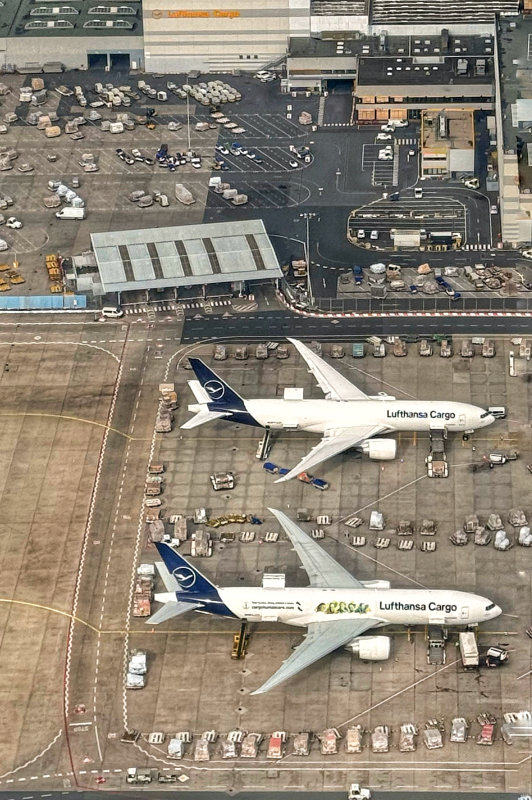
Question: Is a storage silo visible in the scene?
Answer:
No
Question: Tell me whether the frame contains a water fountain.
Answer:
No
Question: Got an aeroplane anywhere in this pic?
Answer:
Yes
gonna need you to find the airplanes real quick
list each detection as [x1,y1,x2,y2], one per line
[146,509,502,694]
[181,338,495,483]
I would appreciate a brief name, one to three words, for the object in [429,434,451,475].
work vehicle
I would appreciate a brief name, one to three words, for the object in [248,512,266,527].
work vehicle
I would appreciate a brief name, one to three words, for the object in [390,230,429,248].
vehicle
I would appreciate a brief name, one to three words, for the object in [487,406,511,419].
vehicle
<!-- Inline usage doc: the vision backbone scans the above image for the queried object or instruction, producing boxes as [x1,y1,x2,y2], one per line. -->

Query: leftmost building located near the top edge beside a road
[0,0,142,71]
